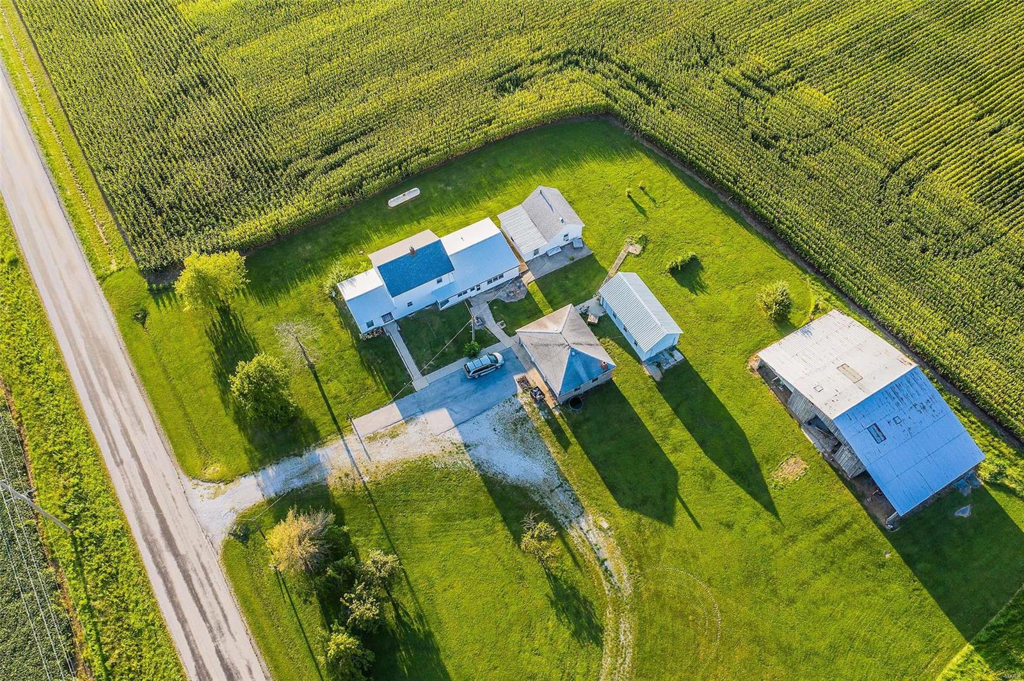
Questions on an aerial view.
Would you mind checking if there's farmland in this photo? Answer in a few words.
Yes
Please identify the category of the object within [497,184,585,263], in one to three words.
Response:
building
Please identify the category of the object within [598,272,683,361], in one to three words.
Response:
shed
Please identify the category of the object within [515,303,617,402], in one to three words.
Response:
building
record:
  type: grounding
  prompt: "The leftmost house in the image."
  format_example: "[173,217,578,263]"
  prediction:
[335,217,520,333]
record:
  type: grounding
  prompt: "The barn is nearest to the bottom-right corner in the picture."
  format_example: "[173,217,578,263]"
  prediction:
[757,307,979,530]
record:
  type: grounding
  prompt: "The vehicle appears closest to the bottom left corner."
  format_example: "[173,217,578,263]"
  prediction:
[461,348,507,378]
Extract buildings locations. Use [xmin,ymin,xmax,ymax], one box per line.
[335,217,520,333]
[497,184,585,263]
[598,272,683,361]
[515,303,617,402]
[757,307,979,530]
